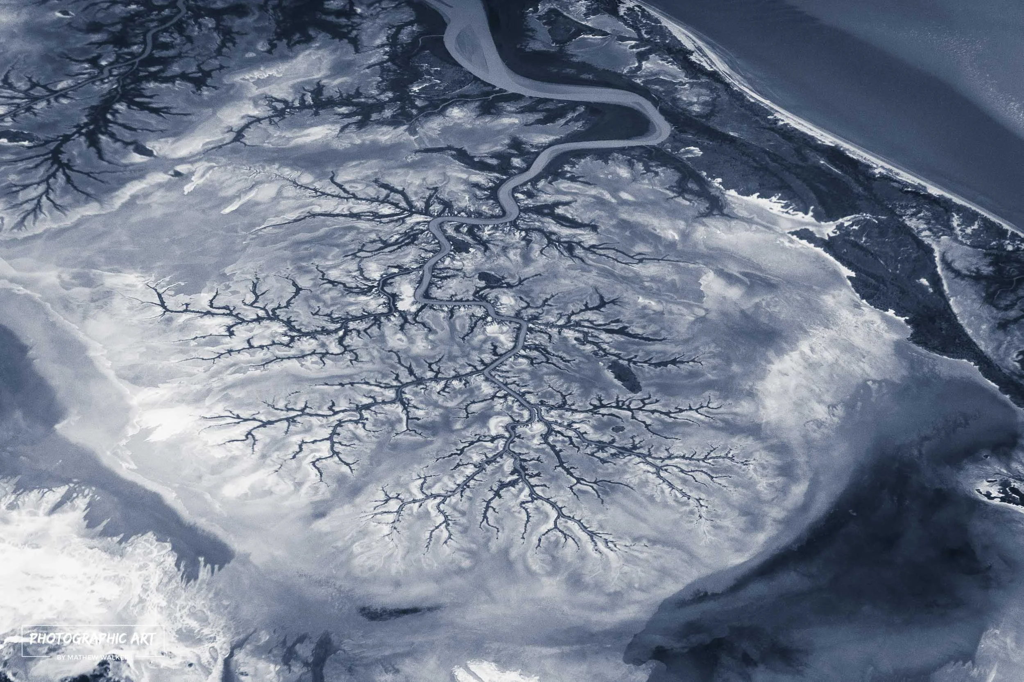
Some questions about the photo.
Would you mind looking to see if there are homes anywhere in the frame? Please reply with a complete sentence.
No, the photo shows no home.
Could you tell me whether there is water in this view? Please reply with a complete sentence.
Yes, there's water in this view.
